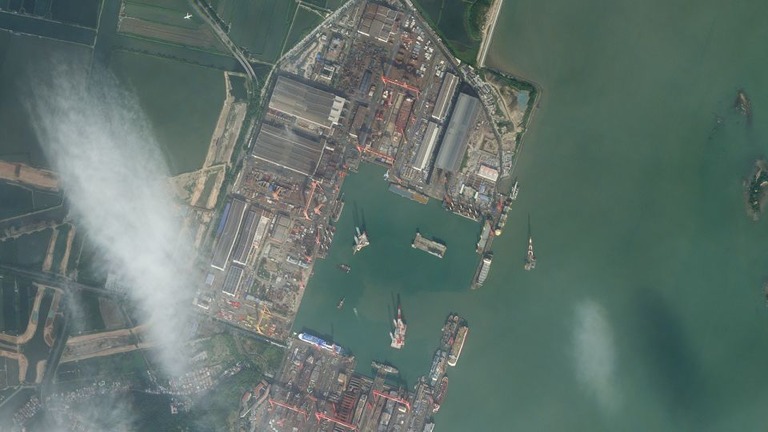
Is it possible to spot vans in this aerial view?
No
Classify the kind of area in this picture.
port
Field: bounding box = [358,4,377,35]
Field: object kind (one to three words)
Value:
building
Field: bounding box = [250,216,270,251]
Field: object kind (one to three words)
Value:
building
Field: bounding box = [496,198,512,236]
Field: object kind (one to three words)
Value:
ship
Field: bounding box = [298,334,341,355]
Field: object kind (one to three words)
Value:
ship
